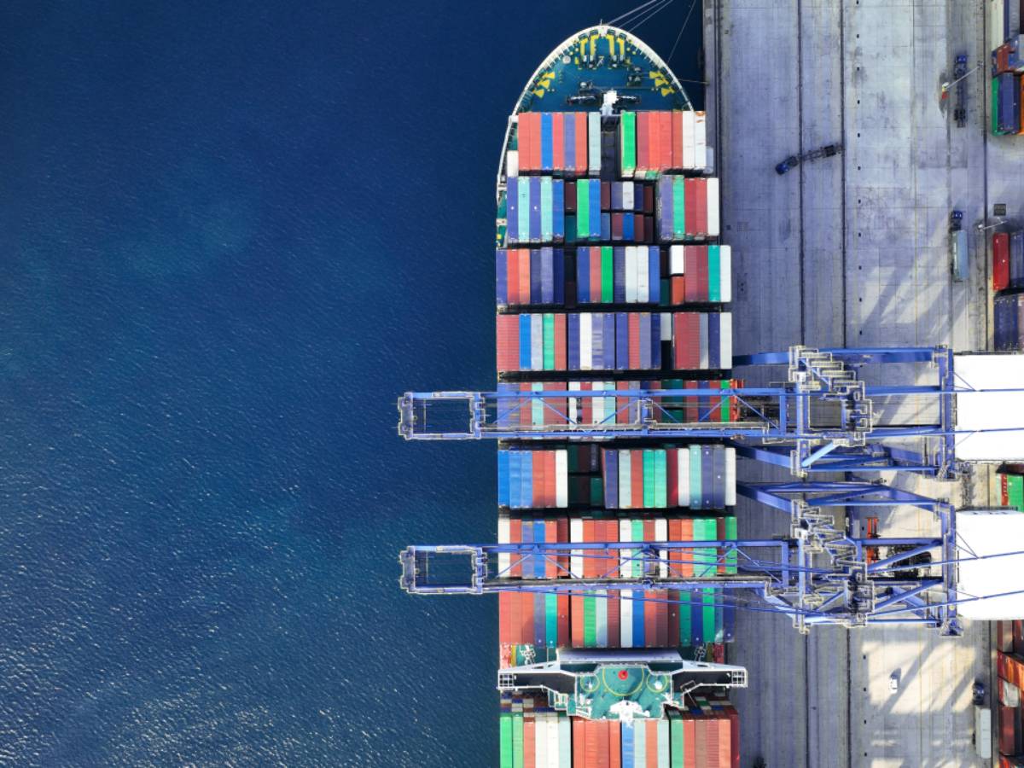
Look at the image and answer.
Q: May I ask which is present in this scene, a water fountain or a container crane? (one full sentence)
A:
I can see a container crane in this picture.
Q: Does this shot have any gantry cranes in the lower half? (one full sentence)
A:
Yes, in the lower half there is a gantry crane.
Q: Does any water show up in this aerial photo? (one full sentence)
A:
Yes, the picture does contain water.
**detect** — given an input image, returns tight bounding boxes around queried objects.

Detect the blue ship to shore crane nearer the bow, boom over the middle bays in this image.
[396,335,1024,481]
